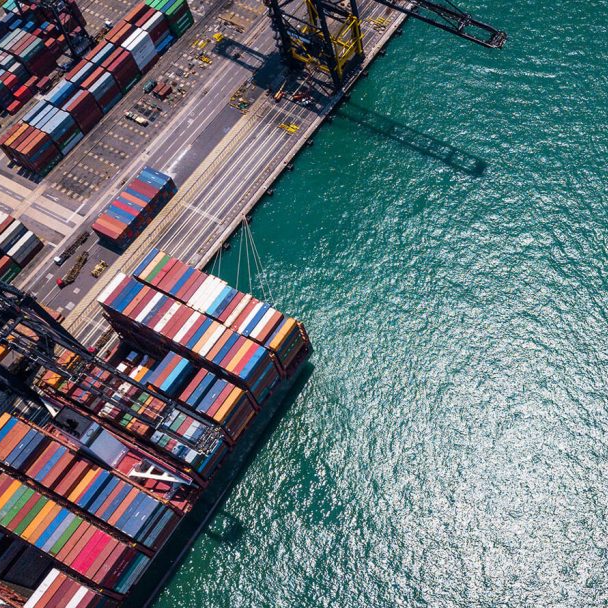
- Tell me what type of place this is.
port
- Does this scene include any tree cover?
No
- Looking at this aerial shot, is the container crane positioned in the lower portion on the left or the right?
left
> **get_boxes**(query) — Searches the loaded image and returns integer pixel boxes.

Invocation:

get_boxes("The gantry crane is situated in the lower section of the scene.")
[0,283,231,465]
